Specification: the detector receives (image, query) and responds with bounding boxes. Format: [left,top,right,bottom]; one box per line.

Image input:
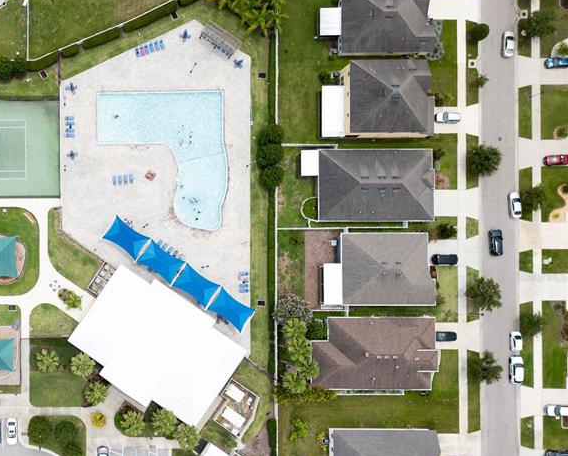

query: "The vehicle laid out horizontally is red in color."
[543,154,568,166]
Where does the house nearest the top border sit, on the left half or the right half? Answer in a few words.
right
